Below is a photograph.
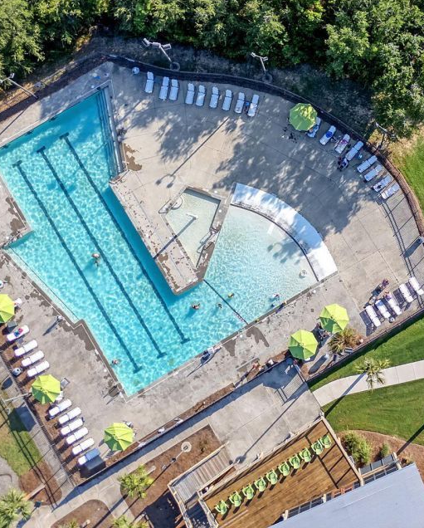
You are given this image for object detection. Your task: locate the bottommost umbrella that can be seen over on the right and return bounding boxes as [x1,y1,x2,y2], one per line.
[287,329,318,359]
